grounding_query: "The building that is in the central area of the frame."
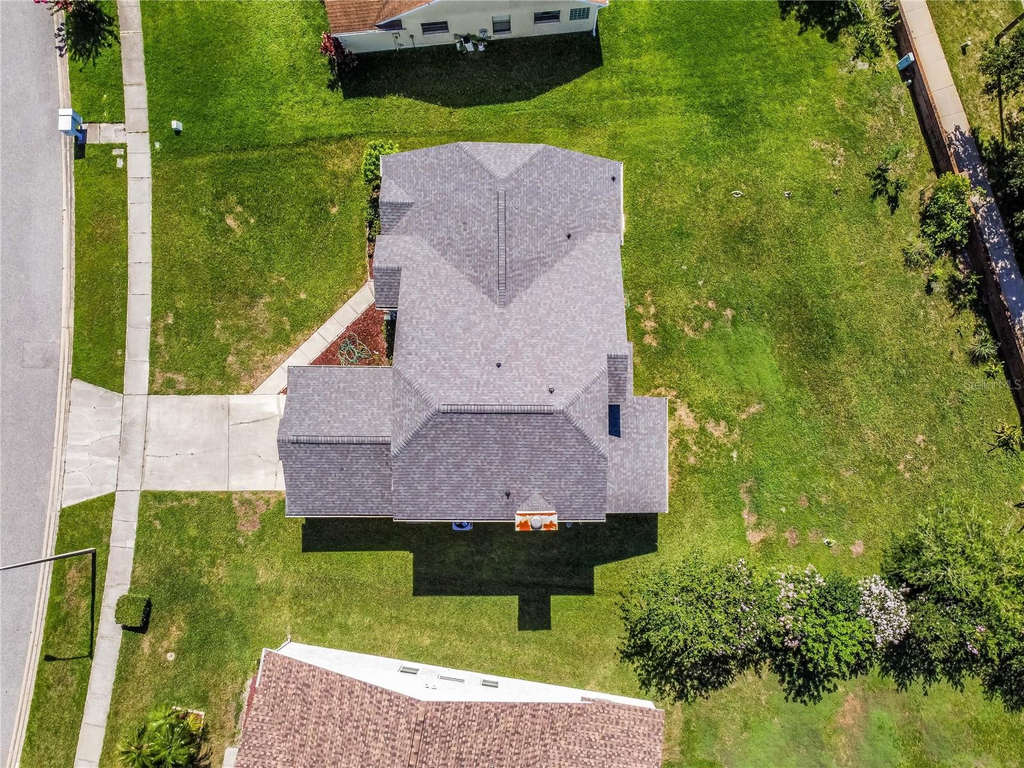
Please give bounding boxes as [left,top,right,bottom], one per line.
[271,141,671,530]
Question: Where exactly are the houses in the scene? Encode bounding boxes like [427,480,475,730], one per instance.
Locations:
[326,0,612,54]
[237,631,664,768]
[271,141,671,530]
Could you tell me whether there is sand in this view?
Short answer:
No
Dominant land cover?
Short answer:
grass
